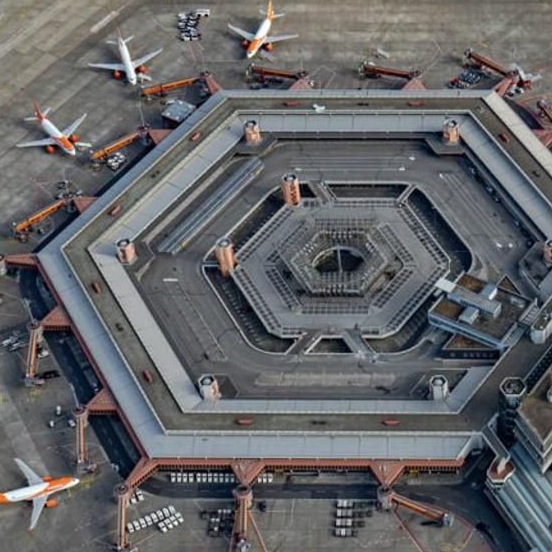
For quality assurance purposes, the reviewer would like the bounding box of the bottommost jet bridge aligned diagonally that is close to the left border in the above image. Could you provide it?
[11,191,77,238]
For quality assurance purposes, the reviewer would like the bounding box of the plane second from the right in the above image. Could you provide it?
[89,29,159,84]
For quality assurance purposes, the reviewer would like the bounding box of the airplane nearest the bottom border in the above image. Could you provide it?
[0,455,79,526]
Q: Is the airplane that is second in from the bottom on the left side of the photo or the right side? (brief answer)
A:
left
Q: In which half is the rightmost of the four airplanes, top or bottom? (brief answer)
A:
top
